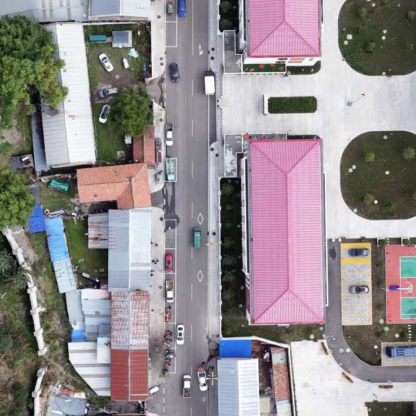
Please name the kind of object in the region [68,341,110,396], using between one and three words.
shed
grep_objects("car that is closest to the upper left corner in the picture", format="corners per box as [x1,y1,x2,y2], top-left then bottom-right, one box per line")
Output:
[99,53,113,72]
